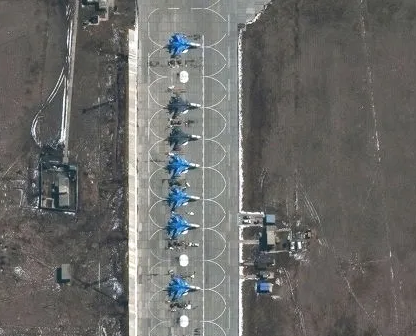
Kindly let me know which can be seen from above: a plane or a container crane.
plane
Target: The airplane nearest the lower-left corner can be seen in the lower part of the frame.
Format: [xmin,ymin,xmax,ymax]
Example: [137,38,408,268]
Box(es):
[165,276,200,300]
